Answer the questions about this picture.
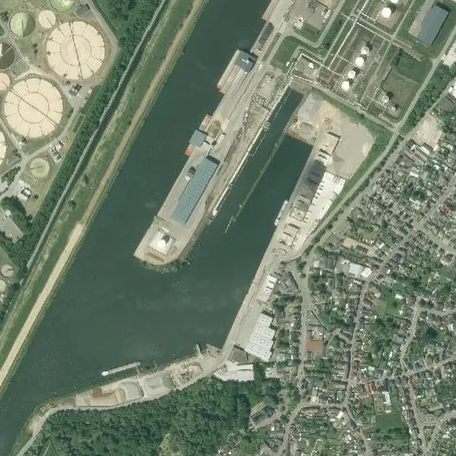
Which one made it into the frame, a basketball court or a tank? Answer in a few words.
tank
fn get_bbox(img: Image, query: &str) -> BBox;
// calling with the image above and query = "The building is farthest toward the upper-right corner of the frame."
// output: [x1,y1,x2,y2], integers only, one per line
[416,4,450,45]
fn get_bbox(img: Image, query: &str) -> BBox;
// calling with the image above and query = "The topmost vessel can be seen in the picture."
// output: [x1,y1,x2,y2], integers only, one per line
[263,0,276,20]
